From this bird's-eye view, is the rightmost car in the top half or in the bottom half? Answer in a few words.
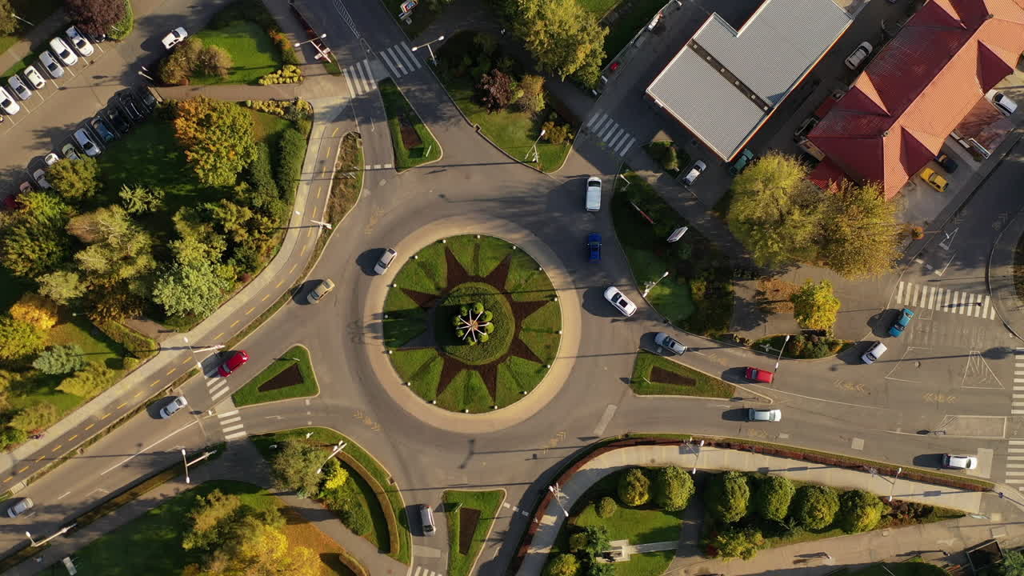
top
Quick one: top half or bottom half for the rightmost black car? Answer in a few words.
top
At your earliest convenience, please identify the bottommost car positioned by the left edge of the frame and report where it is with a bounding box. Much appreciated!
[6,495,36,518]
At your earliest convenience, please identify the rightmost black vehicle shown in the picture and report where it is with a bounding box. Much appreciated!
[931,151,961,176]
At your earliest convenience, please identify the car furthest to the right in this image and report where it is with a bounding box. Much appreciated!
[983,88,1019,117]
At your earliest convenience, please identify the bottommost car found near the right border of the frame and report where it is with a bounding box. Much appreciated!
[941,453,976,471]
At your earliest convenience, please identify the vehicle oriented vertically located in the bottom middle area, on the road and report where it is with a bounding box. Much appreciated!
[420,504,436,537]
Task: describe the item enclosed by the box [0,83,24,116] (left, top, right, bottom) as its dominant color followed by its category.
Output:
white car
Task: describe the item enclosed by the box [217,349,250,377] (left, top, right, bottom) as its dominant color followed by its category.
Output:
red car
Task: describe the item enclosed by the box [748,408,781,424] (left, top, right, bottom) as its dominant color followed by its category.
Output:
white car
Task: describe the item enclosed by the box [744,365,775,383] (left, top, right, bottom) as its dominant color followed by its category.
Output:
red car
